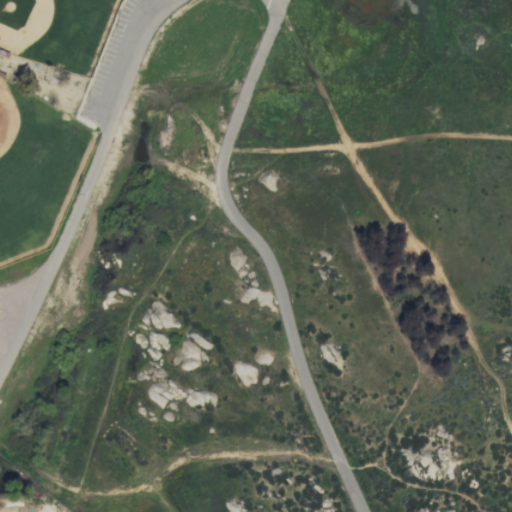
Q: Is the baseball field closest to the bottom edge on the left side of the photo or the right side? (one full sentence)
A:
It is on the left.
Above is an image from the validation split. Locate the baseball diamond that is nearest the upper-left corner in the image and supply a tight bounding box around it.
[0,0,122,76]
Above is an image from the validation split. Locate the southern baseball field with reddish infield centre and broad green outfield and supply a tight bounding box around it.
[0,78,98,266]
